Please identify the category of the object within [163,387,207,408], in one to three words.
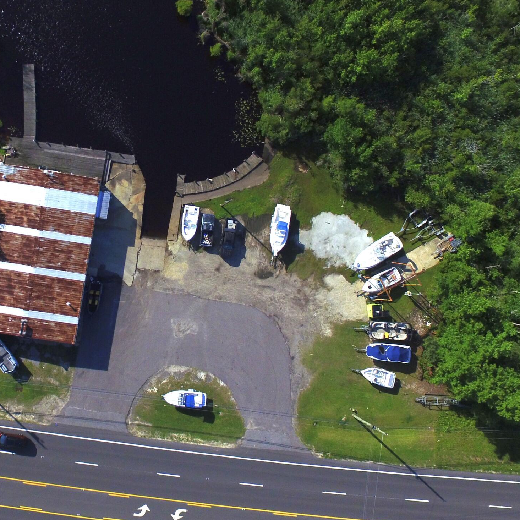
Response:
boat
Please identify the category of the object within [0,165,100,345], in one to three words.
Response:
building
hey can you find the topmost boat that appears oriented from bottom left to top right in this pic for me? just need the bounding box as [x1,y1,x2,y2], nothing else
[356,233,402,268]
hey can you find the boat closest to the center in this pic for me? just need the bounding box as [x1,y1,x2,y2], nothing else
[270,200,292,258]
